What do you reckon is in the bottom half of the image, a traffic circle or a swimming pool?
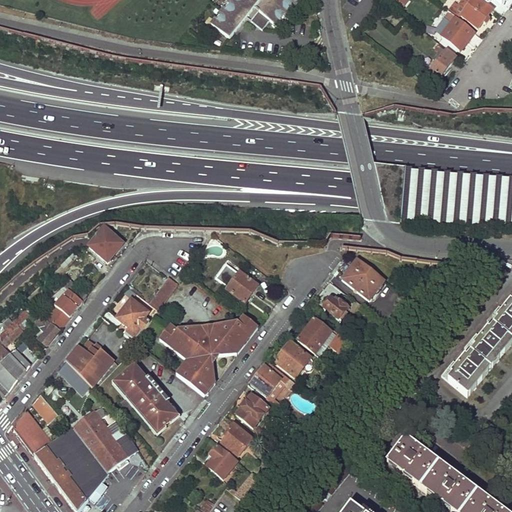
swimming pool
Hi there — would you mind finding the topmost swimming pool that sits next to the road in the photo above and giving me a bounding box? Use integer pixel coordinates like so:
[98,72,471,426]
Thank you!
[204,240,230,261]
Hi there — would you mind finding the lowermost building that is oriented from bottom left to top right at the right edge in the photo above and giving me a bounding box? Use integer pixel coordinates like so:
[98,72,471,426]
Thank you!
[440,288,512,399]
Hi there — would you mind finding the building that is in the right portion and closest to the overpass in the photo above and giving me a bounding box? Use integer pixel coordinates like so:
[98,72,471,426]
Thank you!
[340,256,386,305]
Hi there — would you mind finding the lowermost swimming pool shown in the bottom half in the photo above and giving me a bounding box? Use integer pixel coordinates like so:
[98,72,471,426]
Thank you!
[289,393,314,416]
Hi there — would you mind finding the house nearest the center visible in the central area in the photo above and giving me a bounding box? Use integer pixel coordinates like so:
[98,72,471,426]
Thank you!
[226,270,260,304]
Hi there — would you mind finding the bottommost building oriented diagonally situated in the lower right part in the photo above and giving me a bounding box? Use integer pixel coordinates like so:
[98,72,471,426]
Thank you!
[383,434,511,512]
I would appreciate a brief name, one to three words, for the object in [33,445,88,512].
building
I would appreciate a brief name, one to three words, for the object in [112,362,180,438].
house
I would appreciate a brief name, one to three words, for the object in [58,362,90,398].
building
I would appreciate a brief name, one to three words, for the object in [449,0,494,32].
house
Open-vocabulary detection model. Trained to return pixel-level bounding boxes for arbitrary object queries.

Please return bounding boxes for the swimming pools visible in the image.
[289,393,314,416]
[204,240,230,261]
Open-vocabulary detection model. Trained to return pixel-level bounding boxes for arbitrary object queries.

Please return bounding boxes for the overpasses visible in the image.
[332,108,389,222]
